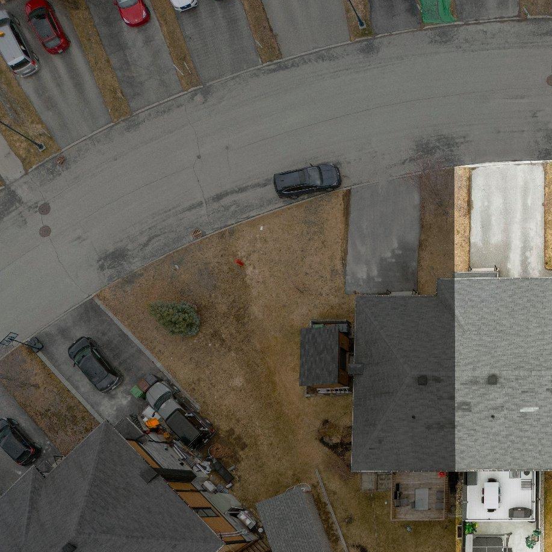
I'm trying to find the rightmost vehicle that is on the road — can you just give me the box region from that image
[273,159,345,201]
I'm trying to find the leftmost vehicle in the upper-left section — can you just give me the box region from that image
[0,6,44,81]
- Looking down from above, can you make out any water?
No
